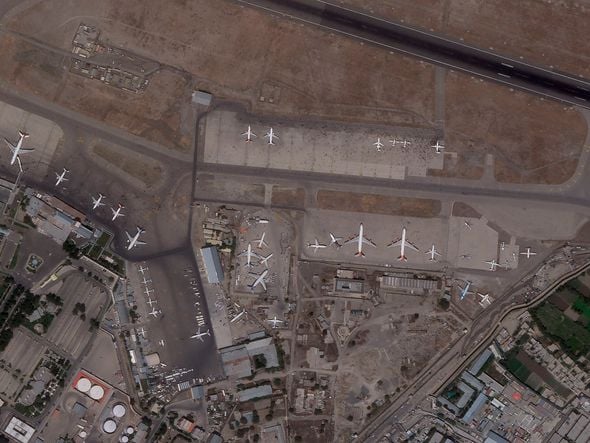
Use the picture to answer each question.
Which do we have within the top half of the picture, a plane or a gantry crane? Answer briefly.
plane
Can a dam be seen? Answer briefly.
No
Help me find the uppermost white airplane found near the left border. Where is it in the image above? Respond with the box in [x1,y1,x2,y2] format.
[3,132,33,164]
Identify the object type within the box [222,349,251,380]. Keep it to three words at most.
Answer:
hangar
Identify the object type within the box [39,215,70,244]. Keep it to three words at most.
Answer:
building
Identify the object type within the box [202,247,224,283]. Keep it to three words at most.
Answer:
hangar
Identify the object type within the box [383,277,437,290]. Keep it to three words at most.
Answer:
shed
